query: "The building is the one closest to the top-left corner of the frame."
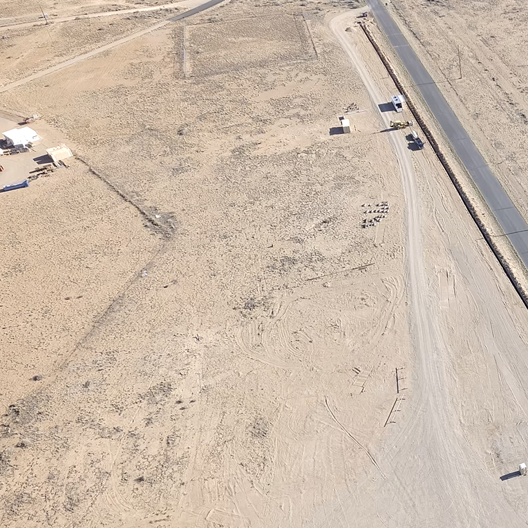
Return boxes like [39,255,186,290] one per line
[3,128,39,151]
